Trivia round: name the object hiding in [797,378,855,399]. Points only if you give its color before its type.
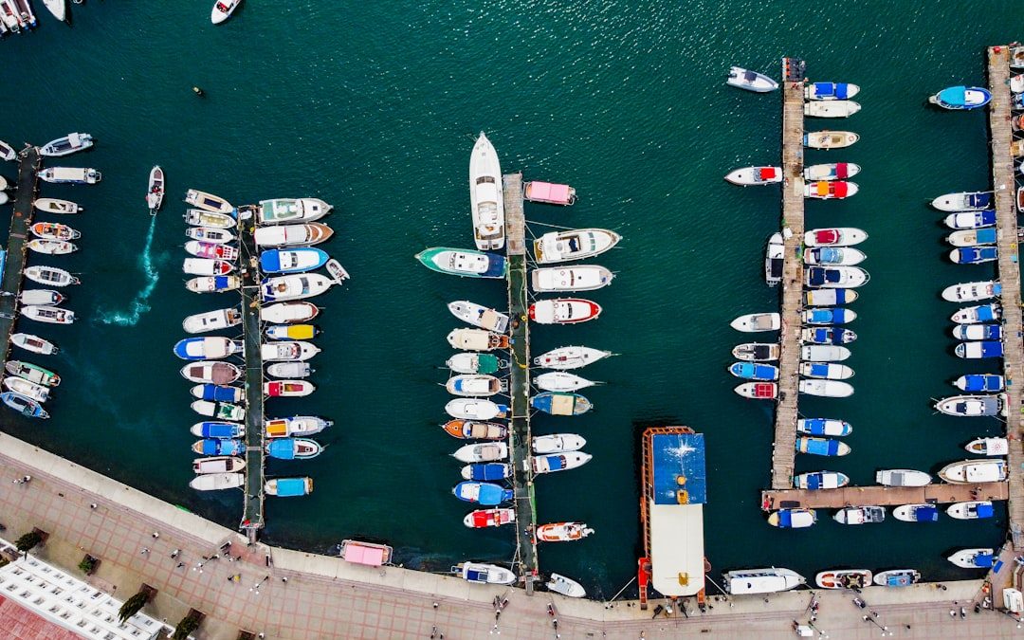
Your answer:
white boat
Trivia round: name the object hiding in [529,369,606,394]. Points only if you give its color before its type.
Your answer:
white boat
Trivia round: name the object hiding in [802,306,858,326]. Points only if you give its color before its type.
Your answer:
blue boat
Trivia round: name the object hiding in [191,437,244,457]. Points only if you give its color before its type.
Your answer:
blue boat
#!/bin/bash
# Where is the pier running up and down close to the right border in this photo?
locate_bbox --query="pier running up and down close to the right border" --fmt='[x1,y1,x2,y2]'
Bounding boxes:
[983,45,1024,542]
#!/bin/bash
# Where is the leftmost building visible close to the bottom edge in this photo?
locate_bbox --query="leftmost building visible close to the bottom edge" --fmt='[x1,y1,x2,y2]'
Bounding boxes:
[0,555,167,640]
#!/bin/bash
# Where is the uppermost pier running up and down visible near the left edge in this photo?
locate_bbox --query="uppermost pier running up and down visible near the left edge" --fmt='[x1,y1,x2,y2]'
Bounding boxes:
[0,144,42,405]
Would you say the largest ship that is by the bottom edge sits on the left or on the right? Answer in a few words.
right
